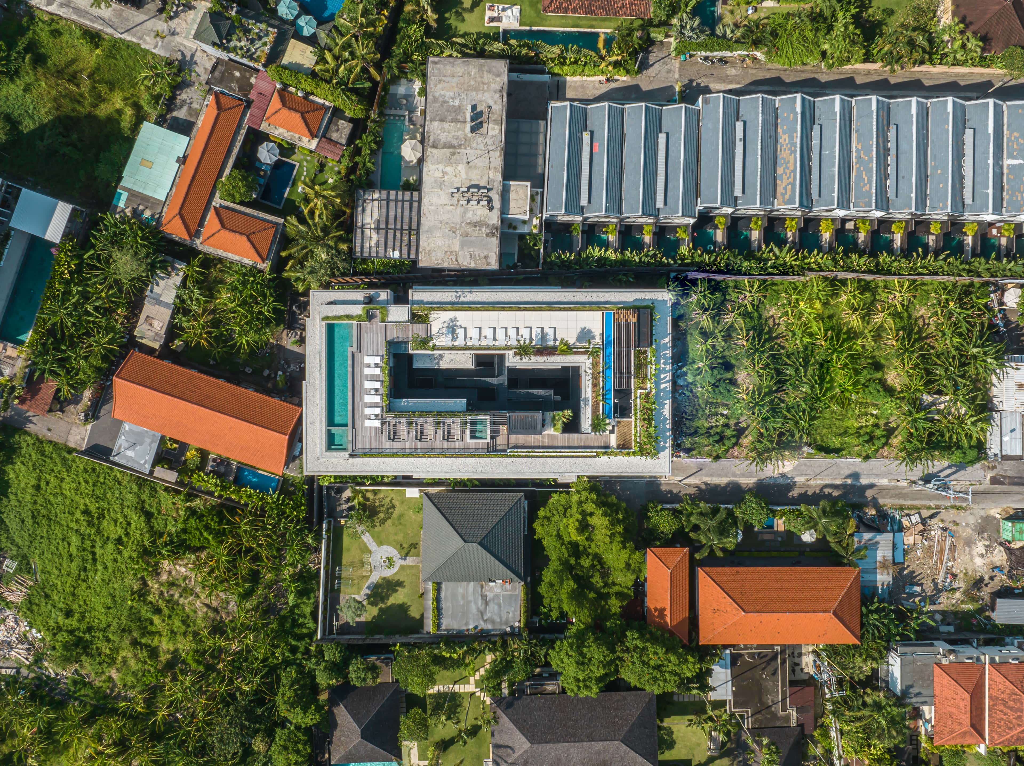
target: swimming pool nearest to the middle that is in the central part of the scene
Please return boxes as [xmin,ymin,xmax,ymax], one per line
[468,417,489,442]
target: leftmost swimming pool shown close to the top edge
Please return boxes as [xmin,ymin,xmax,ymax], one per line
[294,0,346,24]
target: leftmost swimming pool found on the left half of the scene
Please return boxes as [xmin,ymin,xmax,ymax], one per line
[0,233,57,347]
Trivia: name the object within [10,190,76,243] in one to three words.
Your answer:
building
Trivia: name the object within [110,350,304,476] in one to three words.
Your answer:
house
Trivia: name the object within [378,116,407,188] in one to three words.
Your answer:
swimming pool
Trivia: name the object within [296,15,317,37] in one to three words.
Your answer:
umbrella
